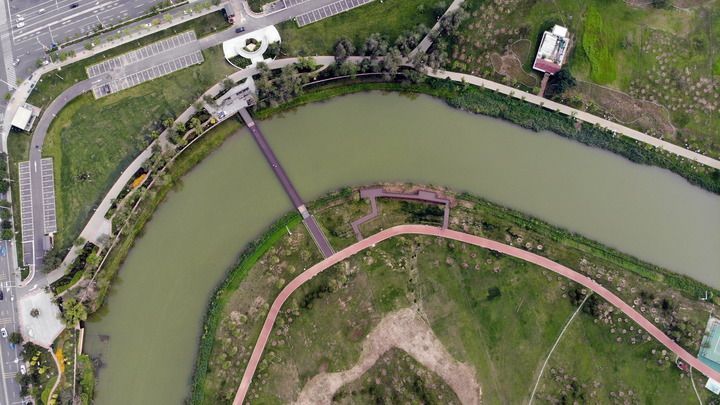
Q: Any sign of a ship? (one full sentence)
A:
No, there appears to be no ship in this shot.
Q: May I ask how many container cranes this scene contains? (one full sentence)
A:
The count of container cranes is 0.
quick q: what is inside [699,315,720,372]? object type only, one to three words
sports court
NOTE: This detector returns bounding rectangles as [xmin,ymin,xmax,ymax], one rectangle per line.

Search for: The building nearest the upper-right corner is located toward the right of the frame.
[530,25,570,77]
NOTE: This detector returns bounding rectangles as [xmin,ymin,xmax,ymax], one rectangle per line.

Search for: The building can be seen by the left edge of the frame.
[12,107,39,131]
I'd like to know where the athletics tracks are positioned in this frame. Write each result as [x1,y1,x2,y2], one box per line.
[233,224,720,405]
